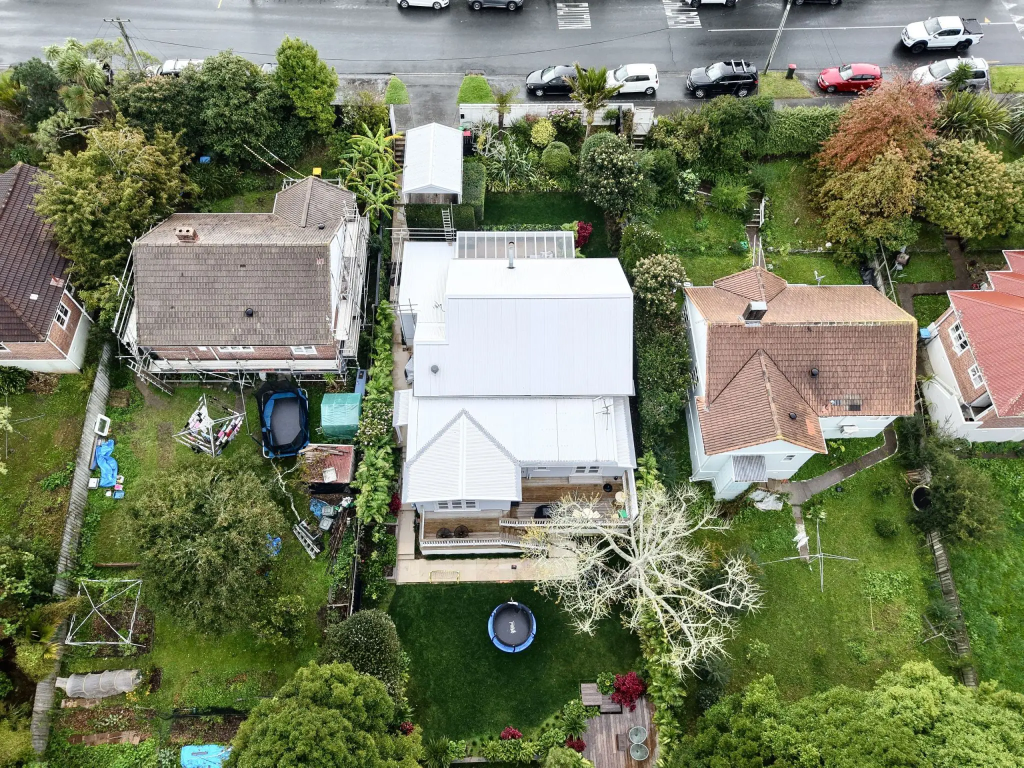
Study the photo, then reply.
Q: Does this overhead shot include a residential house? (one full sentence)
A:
Yes, looking at the shot, I can spot a residential house.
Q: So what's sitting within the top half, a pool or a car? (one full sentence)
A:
The one visible within the top half is a car.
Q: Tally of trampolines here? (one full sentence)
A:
The picture shows 2 trampolines.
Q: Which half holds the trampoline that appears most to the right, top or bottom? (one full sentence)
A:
You can find the trampoline that appears most to the right in the bottom half.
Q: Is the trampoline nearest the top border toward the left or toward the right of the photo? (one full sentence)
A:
The trampoline nearest the top border sits on the left side.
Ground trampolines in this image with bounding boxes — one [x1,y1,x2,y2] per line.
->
[489,601,537,656]
[254,382,311,462]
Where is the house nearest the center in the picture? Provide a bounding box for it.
[393,242,636,518]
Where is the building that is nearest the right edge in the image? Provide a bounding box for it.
[931,248,1024,441]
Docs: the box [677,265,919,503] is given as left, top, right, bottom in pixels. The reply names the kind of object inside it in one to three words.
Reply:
house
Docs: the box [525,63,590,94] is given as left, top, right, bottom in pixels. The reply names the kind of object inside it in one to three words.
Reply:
car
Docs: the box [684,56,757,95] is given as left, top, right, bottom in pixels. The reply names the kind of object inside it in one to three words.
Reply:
car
